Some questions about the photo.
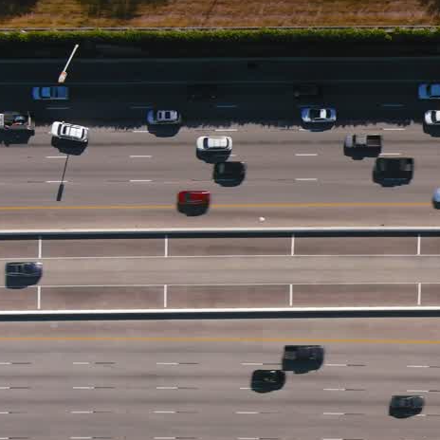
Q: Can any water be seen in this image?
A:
No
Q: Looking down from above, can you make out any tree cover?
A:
No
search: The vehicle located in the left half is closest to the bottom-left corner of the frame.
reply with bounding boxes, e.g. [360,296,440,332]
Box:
[6,261,45,276]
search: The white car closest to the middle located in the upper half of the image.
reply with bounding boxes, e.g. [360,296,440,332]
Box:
[197,135,235,151]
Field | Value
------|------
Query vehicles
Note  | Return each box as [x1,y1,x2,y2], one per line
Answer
[51,122,91,141]
[148,108,184,125]
[391,396,425,409]
[282,345,325,362]
[6,261,45,276]
[33,84,71,101]
[179,189,212,205]
[419,82,440,98]
[376,159,415,176]
[426,109,440,125]
[217,162,248,177]
[197,135,235,151]
[434,189,440,202]
[301,108,337,122]
[345,132,383,148]
[253,371,286,385]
